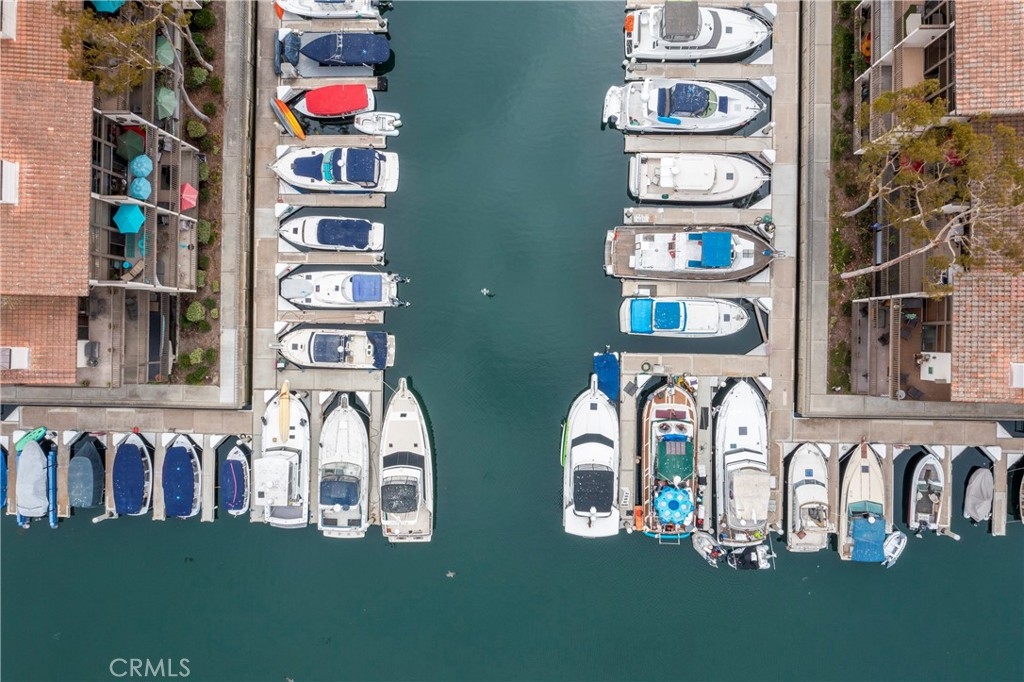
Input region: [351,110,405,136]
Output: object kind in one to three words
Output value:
boat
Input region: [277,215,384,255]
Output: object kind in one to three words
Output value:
boat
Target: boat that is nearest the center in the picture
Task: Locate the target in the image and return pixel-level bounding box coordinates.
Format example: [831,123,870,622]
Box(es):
[592,345,621,401]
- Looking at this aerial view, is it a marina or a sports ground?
marina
